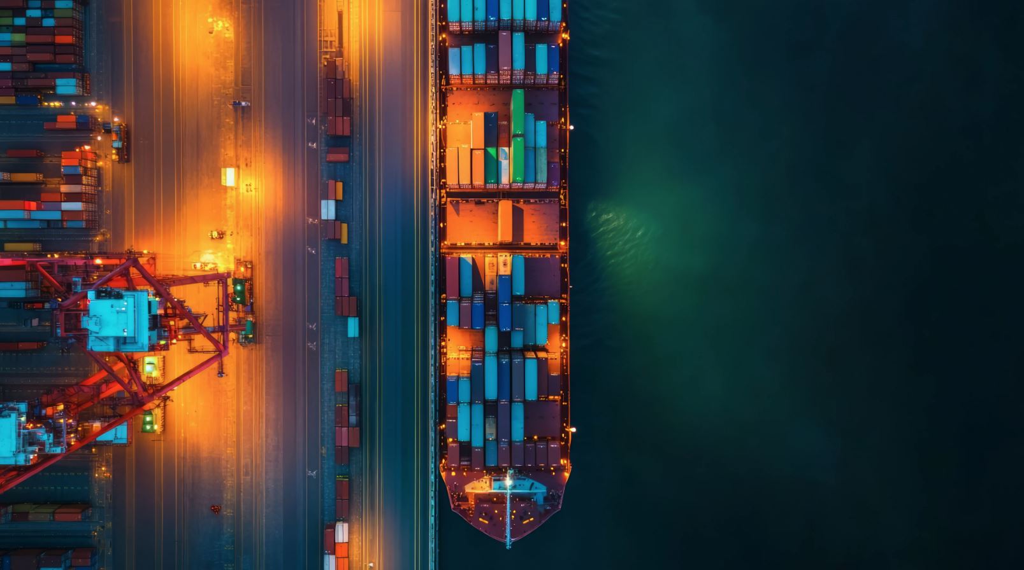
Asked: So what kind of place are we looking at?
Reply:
port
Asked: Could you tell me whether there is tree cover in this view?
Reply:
No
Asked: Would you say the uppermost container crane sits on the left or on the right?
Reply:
left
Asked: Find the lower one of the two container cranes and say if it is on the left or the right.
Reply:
left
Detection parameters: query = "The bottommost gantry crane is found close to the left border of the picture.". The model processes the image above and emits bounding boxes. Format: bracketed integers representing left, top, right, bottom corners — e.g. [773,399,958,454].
[0,352,162,496]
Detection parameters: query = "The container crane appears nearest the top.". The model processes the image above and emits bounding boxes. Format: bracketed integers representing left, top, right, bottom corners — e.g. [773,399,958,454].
[0,250,254,410]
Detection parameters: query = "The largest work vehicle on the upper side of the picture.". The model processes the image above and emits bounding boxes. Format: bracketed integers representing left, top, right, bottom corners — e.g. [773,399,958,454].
[112,121,138,165]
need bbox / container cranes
[0,352,162,496]
[0,250,254,410]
